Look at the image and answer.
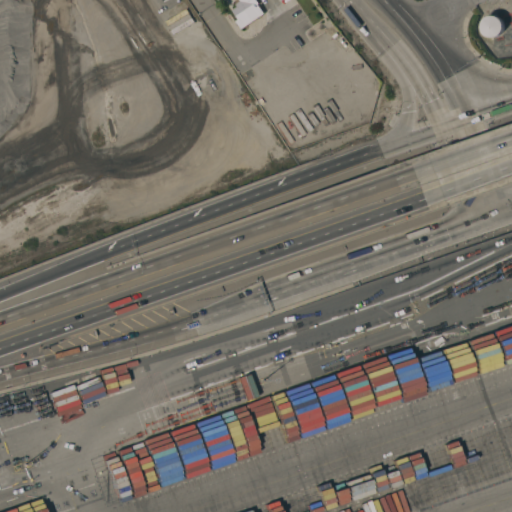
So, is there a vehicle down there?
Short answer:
Yes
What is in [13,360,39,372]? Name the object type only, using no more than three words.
vehicle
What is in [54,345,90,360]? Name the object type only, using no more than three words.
vehicle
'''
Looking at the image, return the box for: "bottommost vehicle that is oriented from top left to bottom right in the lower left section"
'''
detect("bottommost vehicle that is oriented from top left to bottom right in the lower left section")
[64,484,90,502]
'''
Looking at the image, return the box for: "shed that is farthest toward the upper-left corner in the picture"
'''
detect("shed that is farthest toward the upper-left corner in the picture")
[165,9,194,35]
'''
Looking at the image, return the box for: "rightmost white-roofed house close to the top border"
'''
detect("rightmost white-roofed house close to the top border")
[229,0,262,30]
